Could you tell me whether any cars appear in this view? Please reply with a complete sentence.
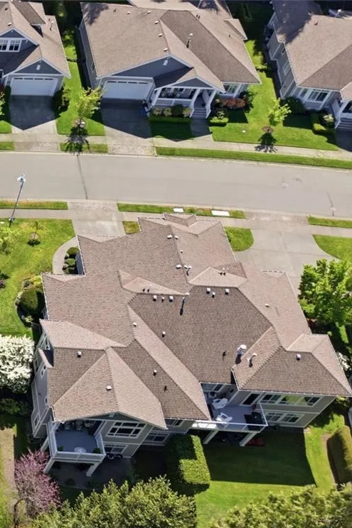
No, there appears to be no car in this shot.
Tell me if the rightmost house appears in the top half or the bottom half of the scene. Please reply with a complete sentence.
You can find the rightmost house in the top half.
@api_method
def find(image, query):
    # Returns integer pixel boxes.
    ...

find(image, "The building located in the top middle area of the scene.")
[71,0,264,118]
